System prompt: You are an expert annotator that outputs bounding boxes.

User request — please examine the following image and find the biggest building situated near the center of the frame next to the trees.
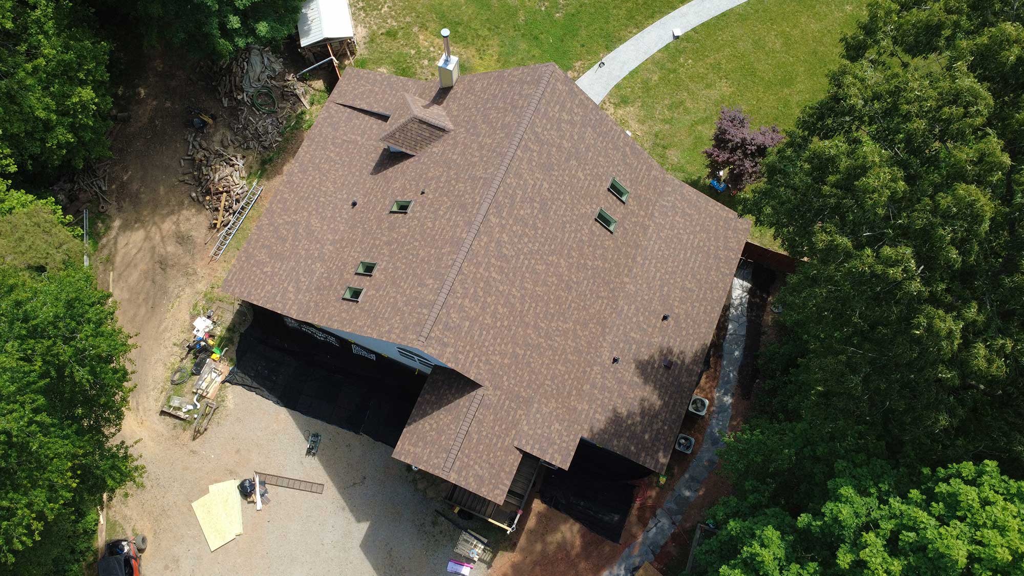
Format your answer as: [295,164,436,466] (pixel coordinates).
[223,22,749,533]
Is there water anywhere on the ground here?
No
